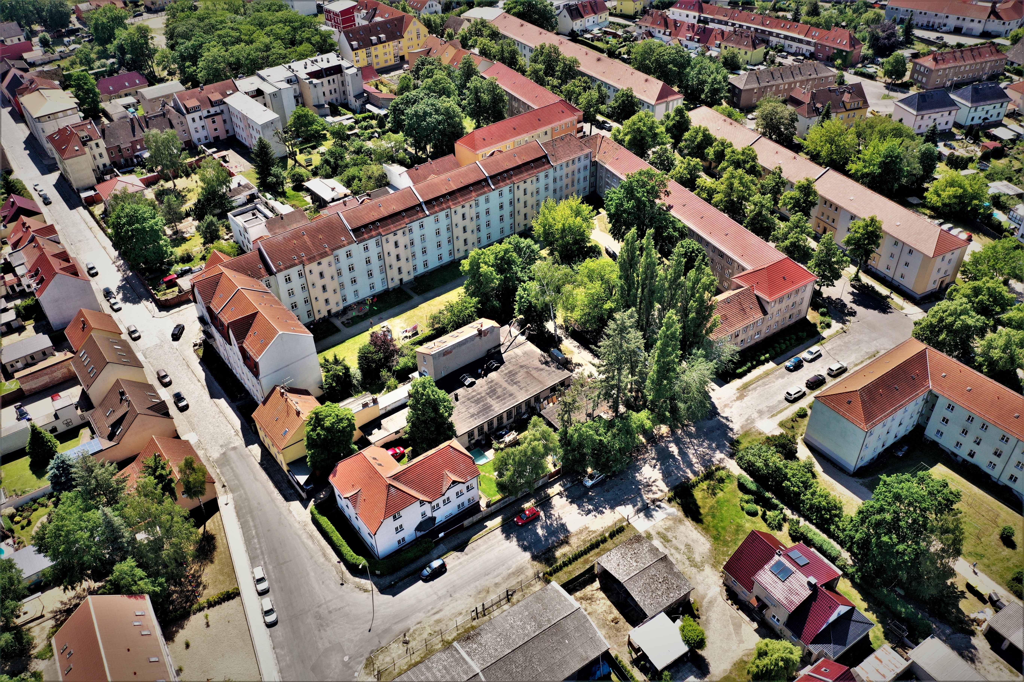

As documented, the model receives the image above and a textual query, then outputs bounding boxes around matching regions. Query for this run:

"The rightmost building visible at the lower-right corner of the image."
[986,603,1024,667]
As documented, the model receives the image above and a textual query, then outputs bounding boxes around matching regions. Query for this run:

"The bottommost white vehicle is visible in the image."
[260,596,279,628]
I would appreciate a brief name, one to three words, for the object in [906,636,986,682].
building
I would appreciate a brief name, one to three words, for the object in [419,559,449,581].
car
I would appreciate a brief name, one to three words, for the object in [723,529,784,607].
house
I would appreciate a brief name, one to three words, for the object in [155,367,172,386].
car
